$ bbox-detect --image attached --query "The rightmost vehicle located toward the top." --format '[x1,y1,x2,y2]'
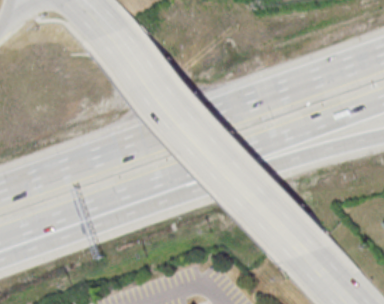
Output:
[334,104,364,120]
